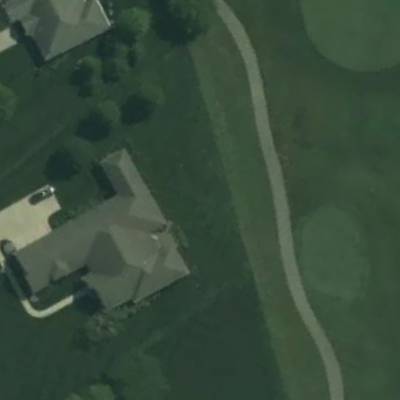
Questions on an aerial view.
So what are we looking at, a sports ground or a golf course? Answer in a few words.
golf course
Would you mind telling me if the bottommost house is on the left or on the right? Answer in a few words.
left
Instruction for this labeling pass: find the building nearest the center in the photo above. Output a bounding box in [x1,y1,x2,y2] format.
[15,150,190,313]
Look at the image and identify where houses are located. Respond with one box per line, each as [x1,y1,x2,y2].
[0,0,110,60]
[15,150,190,313]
